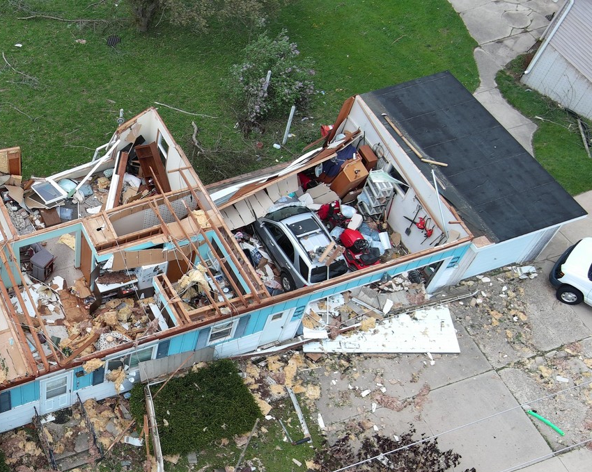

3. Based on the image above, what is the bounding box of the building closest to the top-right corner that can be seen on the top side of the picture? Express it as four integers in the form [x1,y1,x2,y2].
[506,0,592,114]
